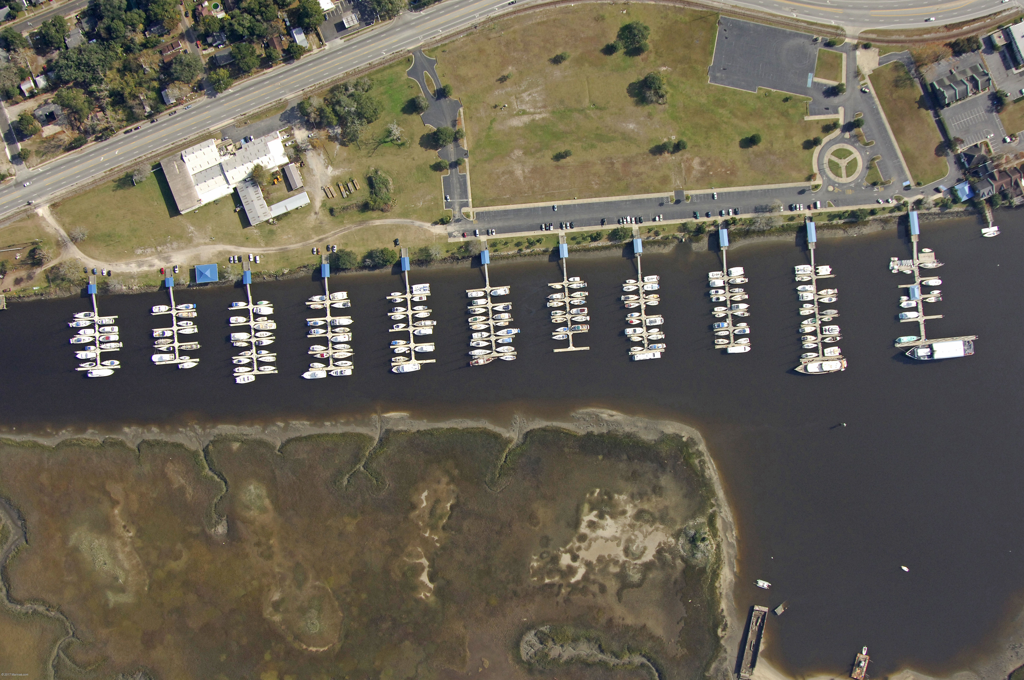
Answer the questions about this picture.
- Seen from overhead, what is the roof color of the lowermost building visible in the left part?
blue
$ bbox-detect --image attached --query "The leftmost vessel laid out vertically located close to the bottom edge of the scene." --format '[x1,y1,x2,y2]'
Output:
[738,605,768,679]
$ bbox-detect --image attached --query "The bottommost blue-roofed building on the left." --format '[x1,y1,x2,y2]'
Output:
[195,263,219,283]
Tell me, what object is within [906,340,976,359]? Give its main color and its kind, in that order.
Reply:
white vessel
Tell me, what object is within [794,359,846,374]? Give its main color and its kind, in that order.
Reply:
white boat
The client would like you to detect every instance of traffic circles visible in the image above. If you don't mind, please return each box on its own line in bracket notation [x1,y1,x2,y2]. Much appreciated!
[824,144,862,182]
